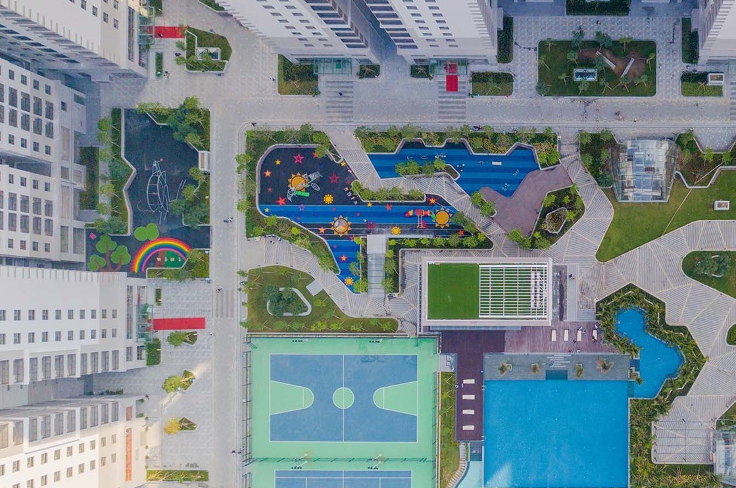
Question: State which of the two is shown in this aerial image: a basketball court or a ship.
basketball court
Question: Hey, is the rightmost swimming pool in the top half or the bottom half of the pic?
bottom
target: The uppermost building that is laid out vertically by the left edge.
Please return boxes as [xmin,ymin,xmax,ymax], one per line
[0,52,96,266]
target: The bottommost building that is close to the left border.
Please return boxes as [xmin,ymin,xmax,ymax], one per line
[0,258,154,488]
